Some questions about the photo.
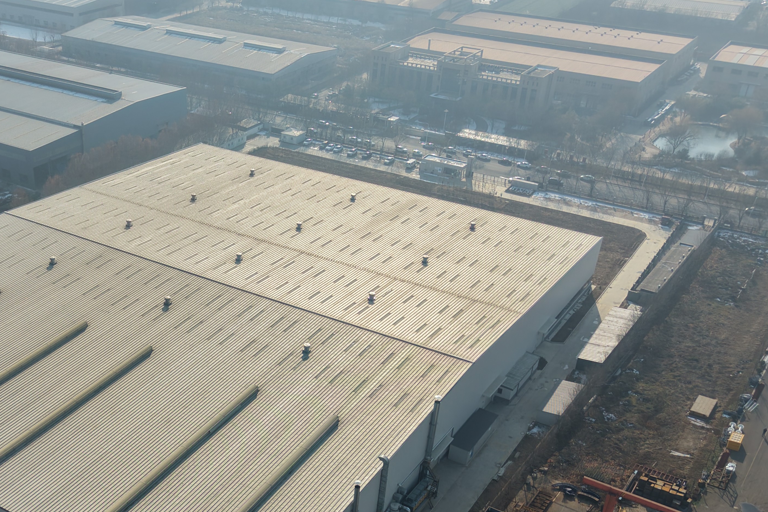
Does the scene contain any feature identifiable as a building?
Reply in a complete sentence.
Yes, a building can be made out from above.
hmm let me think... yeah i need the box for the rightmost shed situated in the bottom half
[575,307,640,376]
